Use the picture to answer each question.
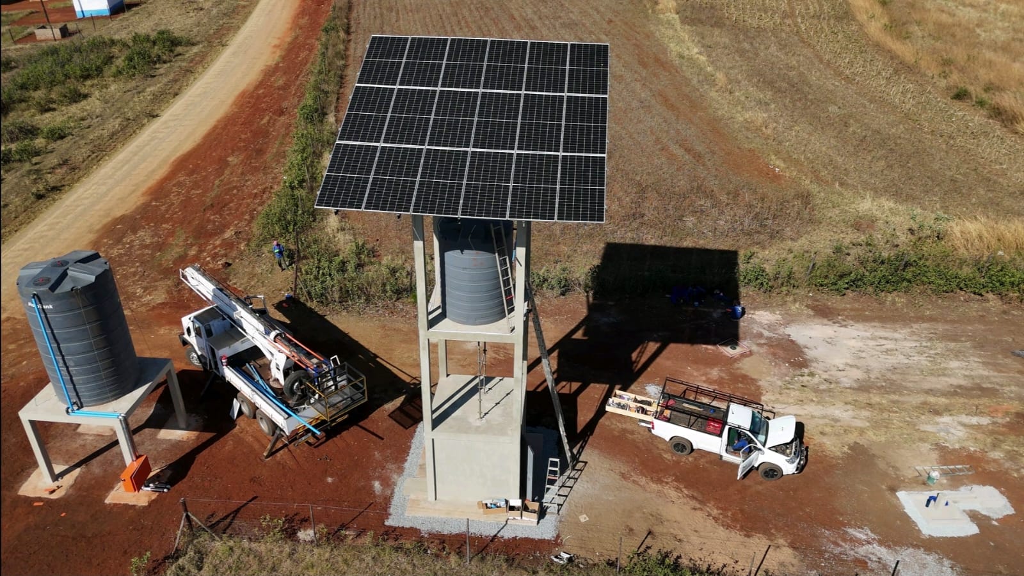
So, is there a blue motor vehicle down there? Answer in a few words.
No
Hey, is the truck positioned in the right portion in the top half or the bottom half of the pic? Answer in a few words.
bottom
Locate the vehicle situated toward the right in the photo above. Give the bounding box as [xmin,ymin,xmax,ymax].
[606,378,807,483]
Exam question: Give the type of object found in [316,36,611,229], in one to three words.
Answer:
solar array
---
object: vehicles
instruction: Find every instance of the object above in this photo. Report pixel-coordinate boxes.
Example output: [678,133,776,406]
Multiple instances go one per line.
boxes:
[606,378,807,483]
[178,261,354,461]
